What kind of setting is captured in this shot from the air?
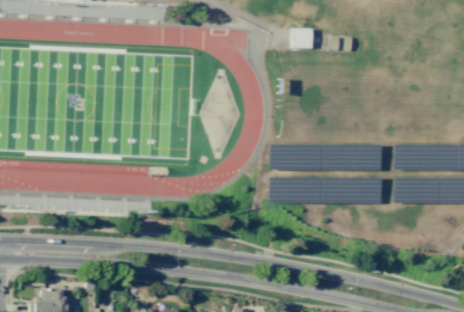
sports ground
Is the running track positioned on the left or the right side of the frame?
left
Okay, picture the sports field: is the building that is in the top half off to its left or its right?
right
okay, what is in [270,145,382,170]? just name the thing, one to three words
solar array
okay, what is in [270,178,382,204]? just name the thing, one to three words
solar array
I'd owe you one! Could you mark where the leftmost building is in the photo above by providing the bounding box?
[36,289,68,312]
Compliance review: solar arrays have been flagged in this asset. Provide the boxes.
[270,178,382,204]
[270,145,382,170]
[394,178,464,204]
[394,145,464,170]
